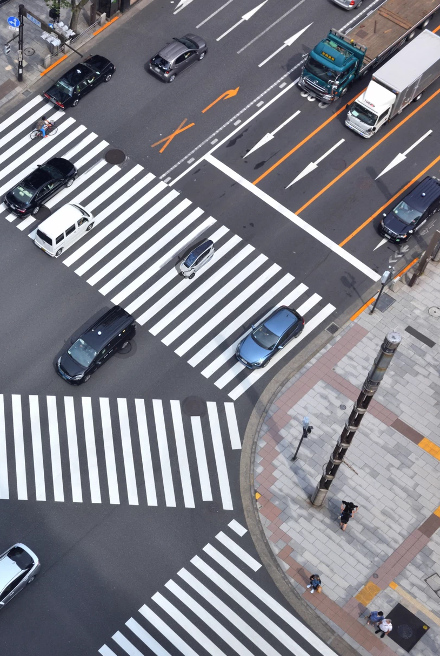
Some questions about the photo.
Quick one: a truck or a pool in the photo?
truck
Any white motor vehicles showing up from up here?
Yes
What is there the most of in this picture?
paved ground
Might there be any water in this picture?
No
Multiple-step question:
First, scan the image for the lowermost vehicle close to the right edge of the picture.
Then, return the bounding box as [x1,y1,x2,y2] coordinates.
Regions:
[381,178,440,246]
